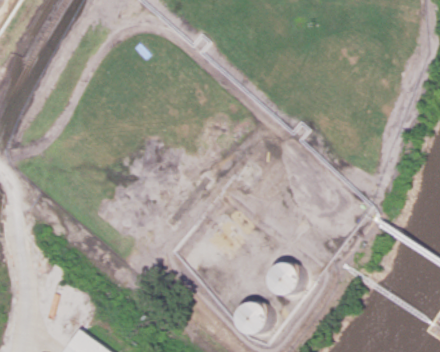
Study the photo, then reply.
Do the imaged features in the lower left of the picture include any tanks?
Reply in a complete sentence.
No, in the lower left of the picture there is no tank.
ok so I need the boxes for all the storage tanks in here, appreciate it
[266,258,310,298]
[234,297,278,336]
